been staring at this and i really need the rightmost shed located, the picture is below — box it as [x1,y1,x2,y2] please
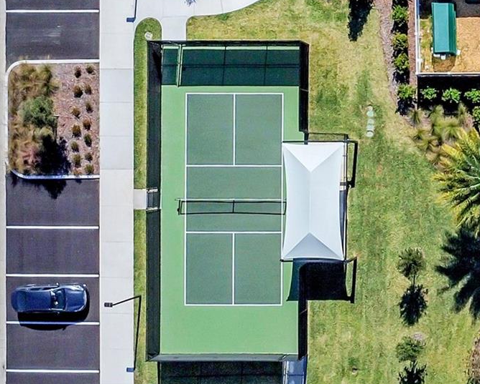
[431,1,459,55]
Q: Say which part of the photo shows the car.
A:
bottom left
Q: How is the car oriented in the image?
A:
horizontally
